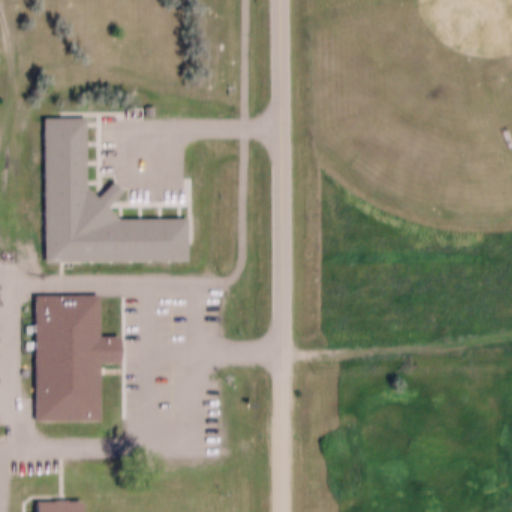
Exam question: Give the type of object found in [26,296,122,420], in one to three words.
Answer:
building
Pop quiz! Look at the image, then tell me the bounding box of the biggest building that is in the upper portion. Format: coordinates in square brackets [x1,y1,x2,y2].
[46,118,188,262]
